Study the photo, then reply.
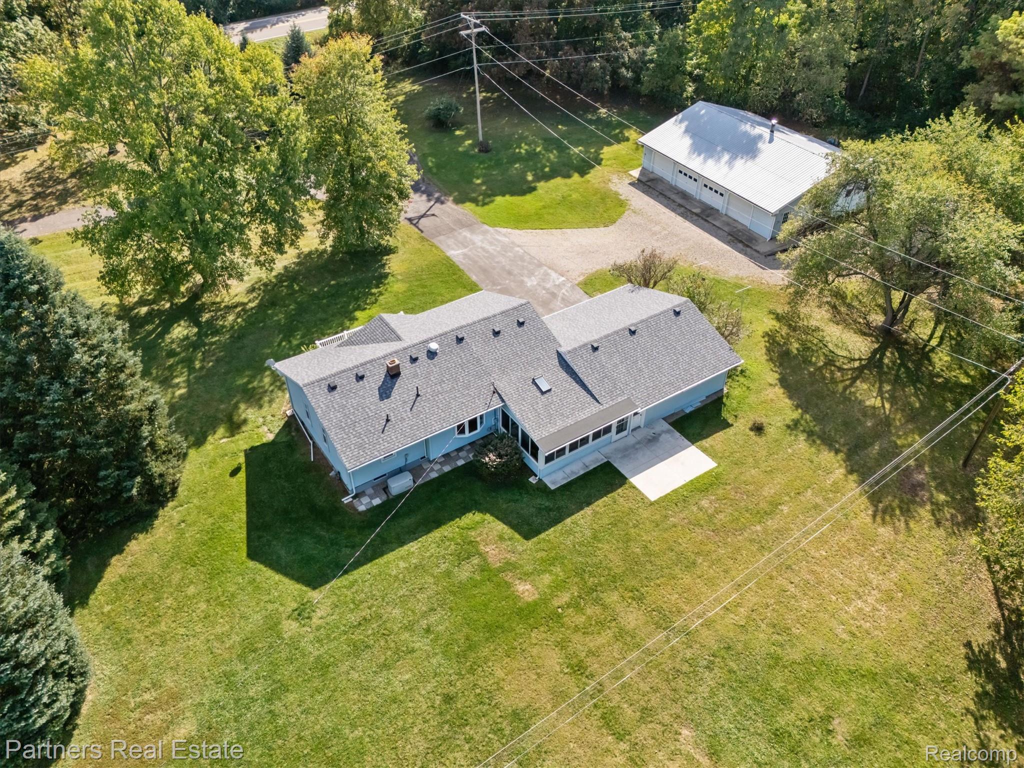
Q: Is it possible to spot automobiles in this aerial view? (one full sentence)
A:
No, I can't see a single automobile in this photo.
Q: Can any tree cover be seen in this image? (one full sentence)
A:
Yes, some tree cover is visible.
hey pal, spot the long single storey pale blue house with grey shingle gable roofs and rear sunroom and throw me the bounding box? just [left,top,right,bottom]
[274,284,743,499]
